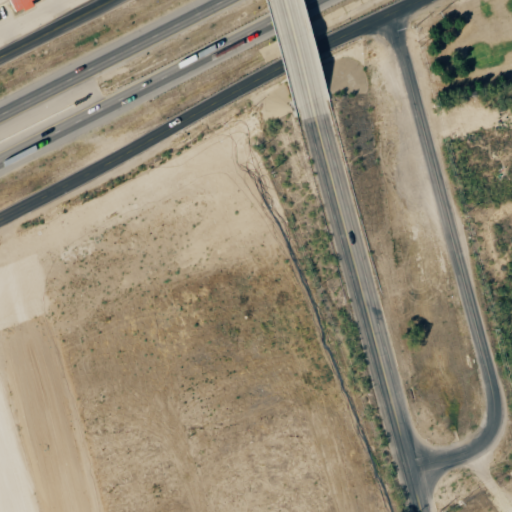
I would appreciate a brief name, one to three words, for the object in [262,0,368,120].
bridge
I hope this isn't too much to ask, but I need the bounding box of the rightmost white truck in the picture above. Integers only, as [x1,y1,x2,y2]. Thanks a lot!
[178,39,228,69]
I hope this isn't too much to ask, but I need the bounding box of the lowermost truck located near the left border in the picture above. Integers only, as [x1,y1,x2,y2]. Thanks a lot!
[3,138,51,166]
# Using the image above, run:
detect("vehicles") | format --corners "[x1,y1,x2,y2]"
[142,80,152,88]
[42,128,54,136]
[214,30,262,58]
[178,39,228,69]
[122,94,137,104]
[75,64,86,72]
[3,138,51,166]
[0,6,7,18]
[168,118,182,127]
[88,104,102,114]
